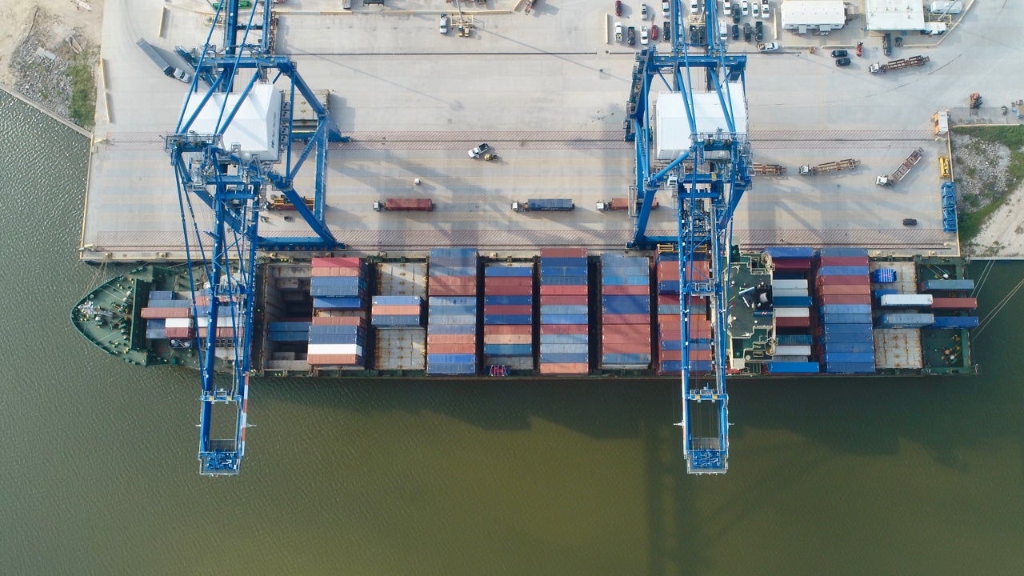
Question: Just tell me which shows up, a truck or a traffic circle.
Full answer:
The one in the frame is a truck.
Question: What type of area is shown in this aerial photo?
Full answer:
It's a port.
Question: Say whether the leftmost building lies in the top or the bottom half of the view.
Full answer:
Seen from above, the leftmost building lies in the top half of the view.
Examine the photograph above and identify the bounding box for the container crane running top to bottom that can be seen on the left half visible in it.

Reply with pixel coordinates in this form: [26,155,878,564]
[169,0,349,475]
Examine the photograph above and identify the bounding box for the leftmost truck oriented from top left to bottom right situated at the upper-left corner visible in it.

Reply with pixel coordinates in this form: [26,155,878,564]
[132,35,180,82]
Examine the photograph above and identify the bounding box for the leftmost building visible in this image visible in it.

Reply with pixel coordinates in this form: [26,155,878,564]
[782,1,845,38]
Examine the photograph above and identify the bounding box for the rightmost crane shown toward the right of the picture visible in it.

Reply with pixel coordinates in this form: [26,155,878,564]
[614,0,755,476]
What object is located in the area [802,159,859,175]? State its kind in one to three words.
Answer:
vehicle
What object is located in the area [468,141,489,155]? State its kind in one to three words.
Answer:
vehicle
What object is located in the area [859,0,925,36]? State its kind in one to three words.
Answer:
shed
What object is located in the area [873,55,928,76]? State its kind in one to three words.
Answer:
truck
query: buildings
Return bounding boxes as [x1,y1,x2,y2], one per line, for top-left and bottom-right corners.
[929,108,951,134]
[782,1,845,38]
[859,0,925,36]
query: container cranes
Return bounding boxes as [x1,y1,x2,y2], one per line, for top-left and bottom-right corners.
[614,0,755,476]
[169,0,349,475]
